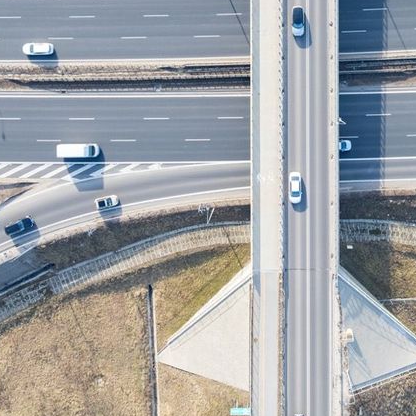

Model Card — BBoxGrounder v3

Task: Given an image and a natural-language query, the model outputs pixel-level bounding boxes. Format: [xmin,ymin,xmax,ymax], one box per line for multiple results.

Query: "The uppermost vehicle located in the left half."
[25,42,54,56]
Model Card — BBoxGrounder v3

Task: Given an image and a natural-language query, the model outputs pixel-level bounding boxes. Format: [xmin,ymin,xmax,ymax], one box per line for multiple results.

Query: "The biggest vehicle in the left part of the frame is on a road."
[55,143,102,159]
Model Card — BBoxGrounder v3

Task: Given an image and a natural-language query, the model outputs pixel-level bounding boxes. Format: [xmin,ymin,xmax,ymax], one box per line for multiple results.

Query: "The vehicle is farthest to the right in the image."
[339,140,354,153]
